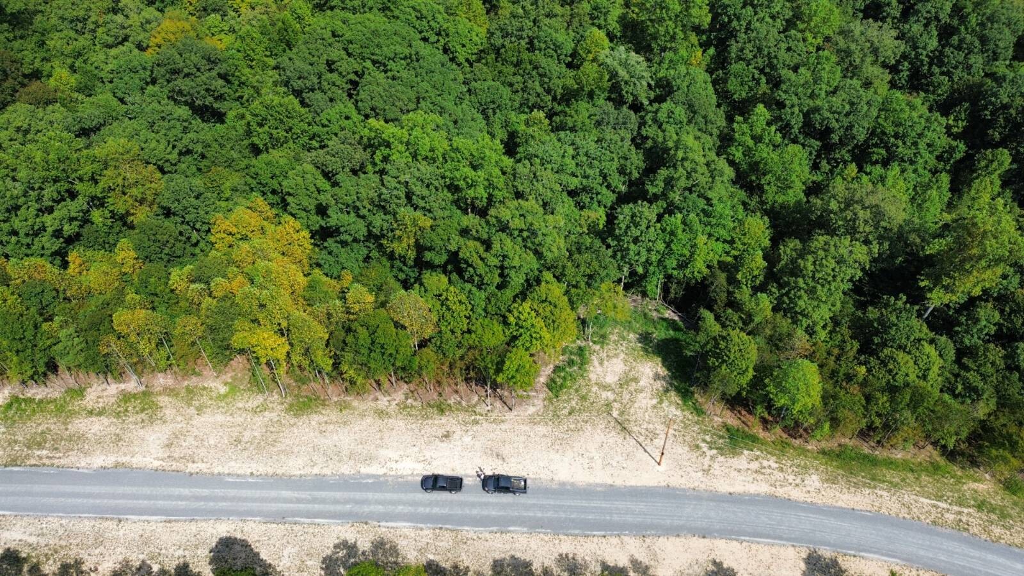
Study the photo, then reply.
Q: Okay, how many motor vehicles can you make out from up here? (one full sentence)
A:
My tally gives 2 motor vehicles in this view.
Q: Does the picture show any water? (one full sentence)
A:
No, the scene doesn't show any water.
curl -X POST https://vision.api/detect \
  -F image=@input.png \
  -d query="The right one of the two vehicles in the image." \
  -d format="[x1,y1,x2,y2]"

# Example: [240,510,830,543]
[483,476,529,499]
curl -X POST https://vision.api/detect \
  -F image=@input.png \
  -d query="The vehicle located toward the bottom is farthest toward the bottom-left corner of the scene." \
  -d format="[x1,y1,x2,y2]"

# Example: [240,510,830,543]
[421,475,462,496]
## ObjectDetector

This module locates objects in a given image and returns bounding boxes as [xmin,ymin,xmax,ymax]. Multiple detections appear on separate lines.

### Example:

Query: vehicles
[421,475,462,496]
[483,476,529,499]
